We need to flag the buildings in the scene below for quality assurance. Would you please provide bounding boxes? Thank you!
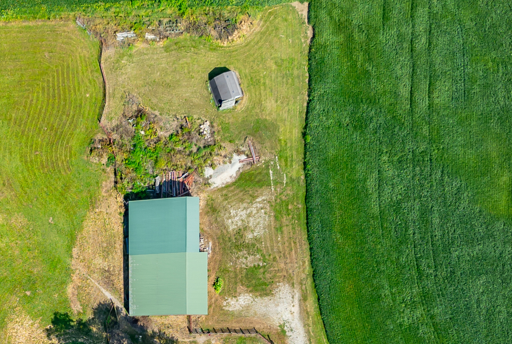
[208,68,244,117]
[129,197,207,315]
